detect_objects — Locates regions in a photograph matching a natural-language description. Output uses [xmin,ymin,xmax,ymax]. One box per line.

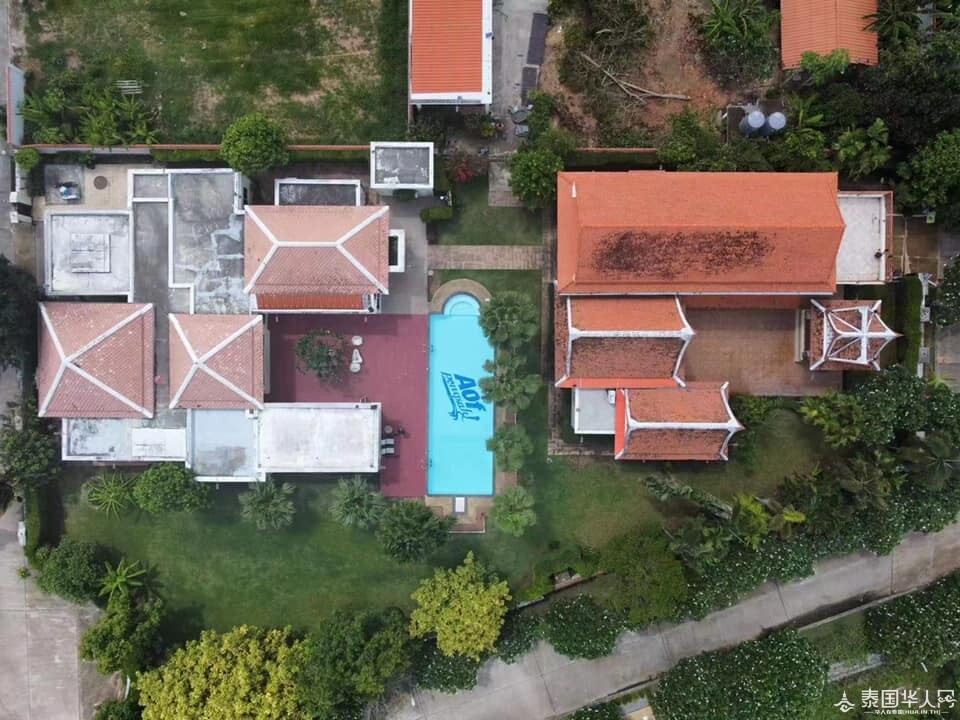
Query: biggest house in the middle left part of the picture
[36,169,408,487]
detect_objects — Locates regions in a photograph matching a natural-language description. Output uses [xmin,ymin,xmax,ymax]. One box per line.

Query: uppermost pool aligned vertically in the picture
[424,280,496,497]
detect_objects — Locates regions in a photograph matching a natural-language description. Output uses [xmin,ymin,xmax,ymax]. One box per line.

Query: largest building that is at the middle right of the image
[556,172,895,465]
